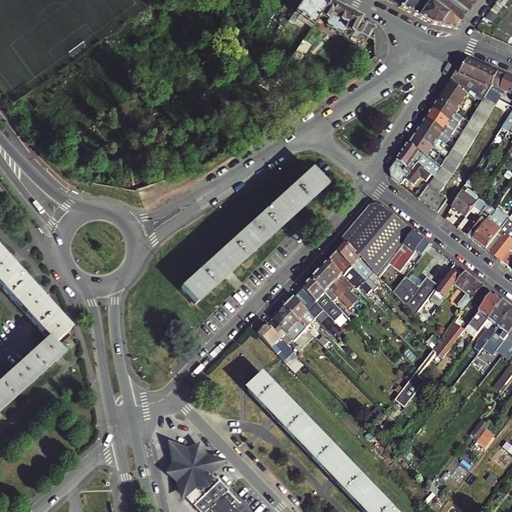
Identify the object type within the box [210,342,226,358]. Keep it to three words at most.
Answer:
vehicle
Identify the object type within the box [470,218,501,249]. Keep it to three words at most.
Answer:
house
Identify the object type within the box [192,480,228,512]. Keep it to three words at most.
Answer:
building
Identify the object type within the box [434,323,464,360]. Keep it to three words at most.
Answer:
shed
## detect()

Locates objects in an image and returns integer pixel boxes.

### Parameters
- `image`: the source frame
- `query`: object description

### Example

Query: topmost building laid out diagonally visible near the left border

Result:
[0,242,75,342]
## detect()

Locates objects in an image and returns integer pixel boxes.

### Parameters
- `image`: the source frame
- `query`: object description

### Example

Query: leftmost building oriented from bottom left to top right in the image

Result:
[0,334,67,413]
